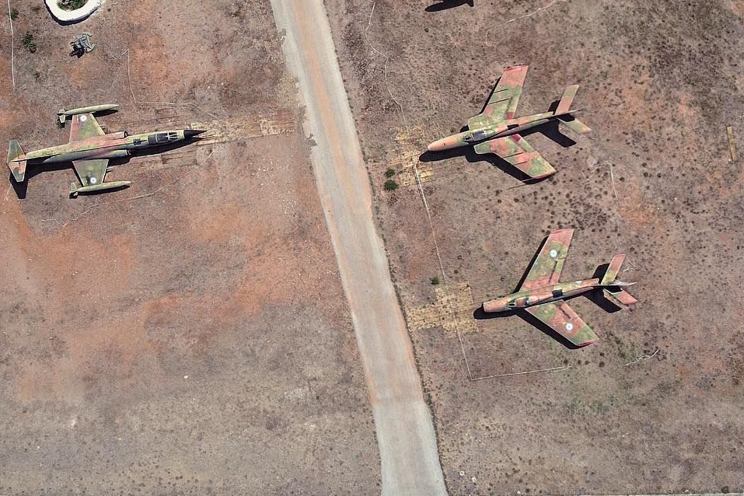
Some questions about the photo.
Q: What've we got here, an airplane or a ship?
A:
airplane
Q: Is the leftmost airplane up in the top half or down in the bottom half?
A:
top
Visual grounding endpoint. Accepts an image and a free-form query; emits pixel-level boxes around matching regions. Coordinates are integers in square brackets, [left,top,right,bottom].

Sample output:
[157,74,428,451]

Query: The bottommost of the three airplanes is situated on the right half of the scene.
[482,224,636,344]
